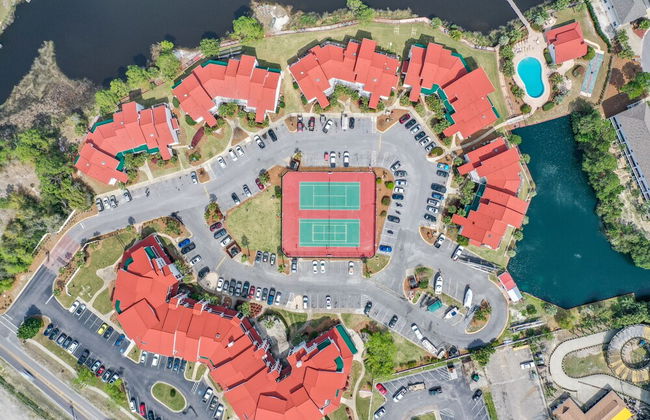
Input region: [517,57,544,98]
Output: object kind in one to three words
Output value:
swimming pool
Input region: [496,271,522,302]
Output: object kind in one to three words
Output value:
shed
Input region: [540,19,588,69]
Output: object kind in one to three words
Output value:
building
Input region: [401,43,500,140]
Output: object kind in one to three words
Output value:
building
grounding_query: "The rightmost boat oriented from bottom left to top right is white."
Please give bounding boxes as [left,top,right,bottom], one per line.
[444,305,461,320]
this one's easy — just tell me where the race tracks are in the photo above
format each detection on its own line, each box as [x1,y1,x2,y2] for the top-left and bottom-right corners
[550,324,650,404]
